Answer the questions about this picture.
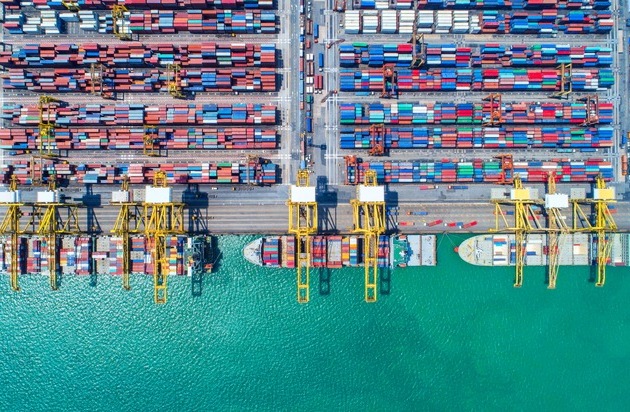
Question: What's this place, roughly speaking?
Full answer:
What you see here is a port.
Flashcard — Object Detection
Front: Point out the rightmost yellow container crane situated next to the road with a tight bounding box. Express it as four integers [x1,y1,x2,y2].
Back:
[564,172,618,290]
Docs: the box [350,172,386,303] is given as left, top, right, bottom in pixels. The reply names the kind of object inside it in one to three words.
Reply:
container crane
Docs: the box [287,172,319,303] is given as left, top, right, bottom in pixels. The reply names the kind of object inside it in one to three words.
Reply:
container crane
